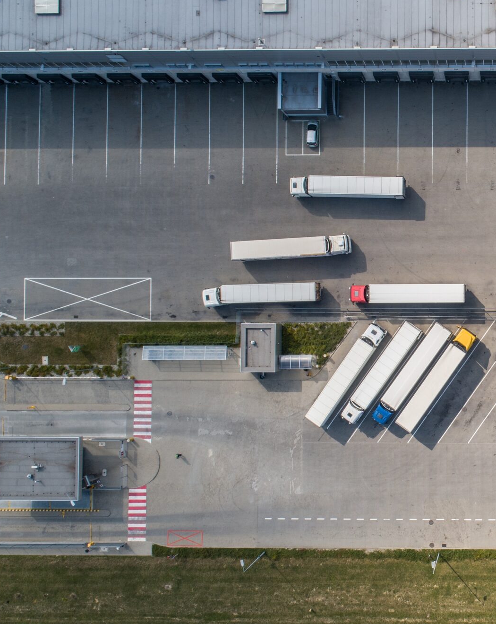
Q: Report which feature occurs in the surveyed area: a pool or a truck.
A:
truck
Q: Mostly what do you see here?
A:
paved ground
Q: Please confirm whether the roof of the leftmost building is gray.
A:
Yes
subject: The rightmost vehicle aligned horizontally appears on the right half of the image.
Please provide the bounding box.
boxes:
[350,284,466,306]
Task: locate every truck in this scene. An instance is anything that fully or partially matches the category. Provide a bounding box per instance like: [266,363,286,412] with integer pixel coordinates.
[202,282,321,310]
[230,233,357,261]
[340,320,423,425]
[370,323,453,425]
[394,326,478,433]
[305,320,389,427]
[289,175,406,199]
[350,284,466,306]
